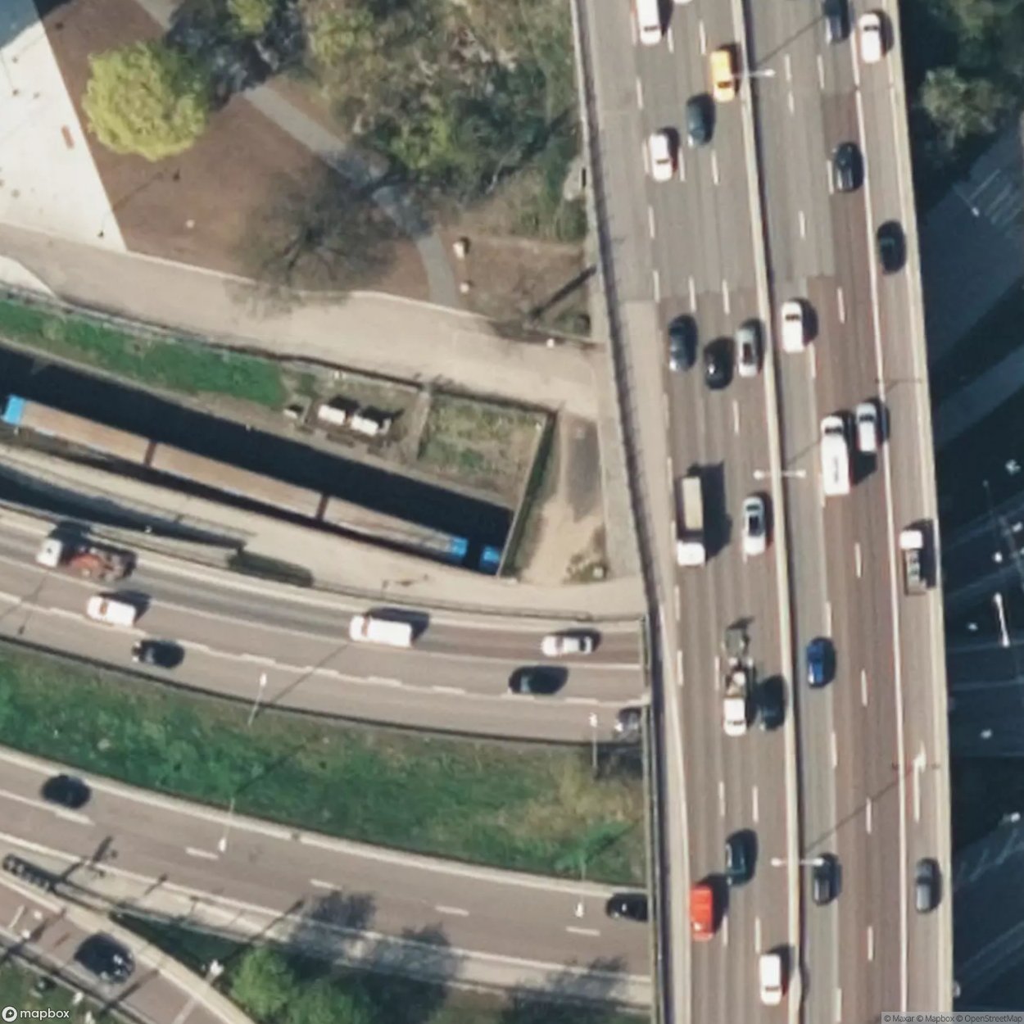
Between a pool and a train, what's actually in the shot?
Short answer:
train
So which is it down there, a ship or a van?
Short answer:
van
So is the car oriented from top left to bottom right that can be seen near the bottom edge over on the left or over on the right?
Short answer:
left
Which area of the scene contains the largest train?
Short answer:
left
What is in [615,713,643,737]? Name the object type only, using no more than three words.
car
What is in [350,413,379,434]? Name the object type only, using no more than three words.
shed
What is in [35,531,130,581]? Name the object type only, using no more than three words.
truck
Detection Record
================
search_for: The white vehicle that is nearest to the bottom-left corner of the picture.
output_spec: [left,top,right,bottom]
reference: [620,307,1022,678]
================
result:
[86,595,139,626]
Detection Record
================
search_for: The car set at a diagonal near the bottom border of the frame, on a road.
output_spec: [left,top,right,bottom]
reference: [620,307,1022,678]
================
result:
[77,938,130,980]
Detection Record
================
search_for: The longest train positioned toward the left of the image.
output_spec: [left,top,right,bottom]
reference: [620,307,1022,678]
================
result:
[1,398,470,563]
